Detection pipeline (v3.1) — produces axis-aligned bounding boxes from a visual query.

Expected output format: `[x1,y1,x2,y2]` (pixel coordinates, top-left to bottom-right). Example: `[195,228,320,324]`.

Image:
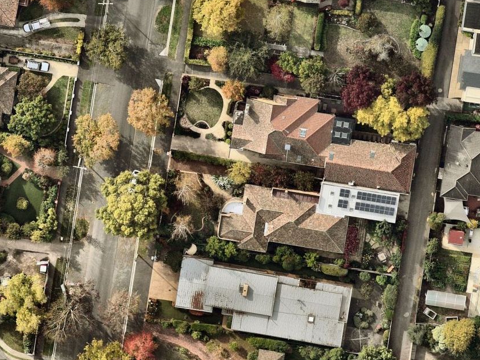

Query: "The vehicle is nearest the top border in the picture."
[22,17,52,34]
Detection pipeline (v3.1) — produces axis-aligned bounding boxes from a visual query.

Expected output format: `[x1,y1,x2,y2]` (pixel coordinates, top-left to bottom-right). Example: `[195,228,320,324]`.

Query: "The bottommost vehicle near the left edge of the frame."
[24,59,51,72]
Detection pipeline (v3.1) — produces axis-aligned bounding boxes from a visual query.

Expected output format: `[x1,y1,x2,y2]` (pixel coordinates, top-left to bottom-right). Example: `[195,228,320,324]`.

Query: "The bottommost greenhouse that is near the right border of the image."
[425,289,466,308]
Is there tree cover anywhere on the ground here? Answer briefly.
Yes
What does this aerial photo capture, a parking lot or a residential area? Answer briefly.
residential area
